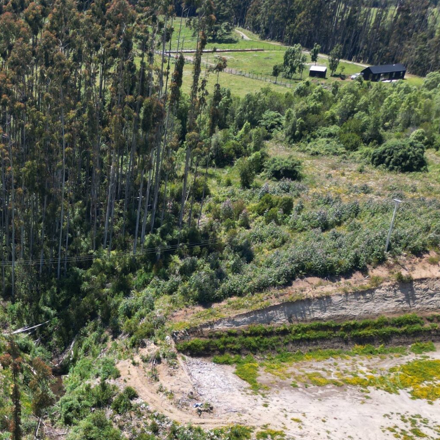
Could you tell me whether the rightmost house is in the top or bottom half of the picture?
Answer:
top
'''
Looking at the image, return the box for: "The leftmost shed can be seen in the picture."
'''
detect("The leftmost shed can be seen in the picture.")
[305,61,327,77]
